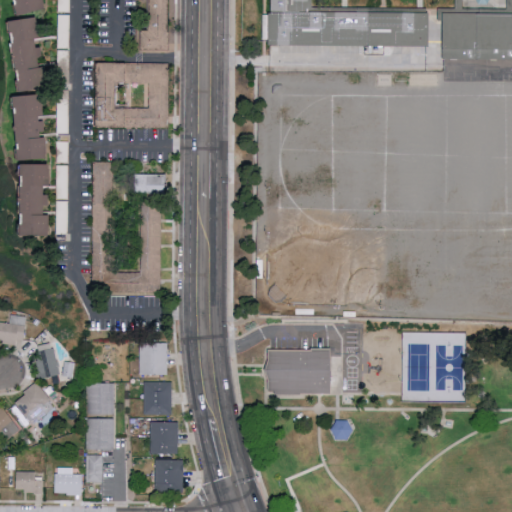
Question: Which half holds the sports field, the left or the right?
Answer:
right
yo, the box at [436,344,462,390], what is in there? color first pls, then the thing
blue basketball court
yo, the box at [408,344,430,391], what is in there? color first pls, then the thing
blue tennis court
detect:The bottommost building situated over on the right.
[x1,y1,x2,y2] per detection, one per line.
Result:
[331,420,354,441]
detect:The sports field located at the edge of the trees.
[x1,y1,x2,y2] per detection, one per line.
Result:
[258,71,512,320]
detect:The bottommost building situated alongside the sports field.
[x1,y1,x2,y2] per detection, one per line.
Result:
[264,348,330,395]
